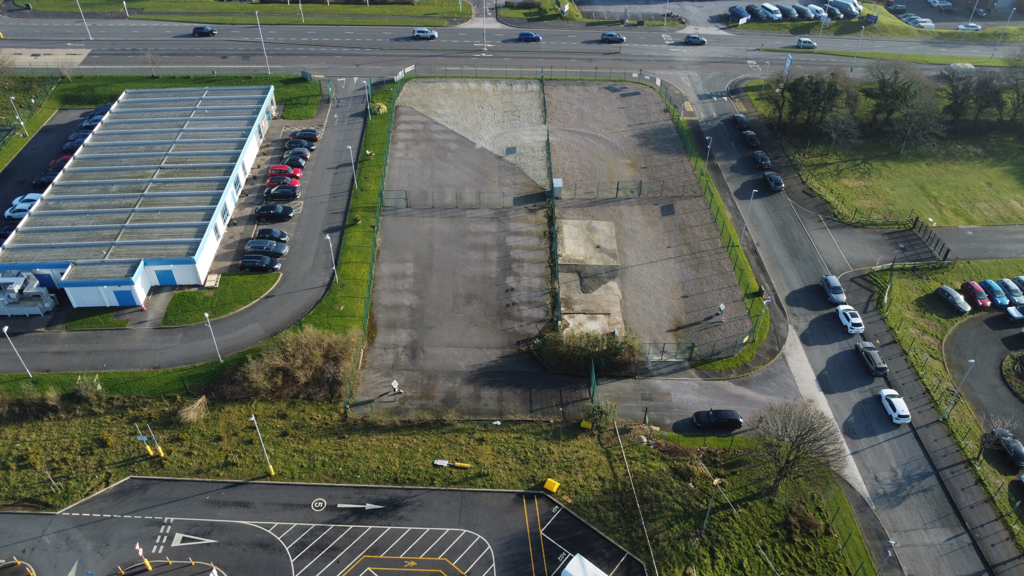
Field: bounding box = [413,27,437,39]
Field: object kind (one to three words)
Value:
vehicle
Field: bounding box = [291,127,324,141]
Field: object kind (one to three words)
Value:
car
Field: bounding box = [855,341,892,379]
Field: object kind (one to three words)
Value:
car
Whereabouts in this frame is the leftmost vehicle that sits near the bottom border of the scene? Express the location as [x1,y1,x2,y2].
[564,556,607,576]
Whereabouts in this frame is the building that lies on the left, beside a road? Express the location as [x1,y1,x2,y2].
[0,87,286,315]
